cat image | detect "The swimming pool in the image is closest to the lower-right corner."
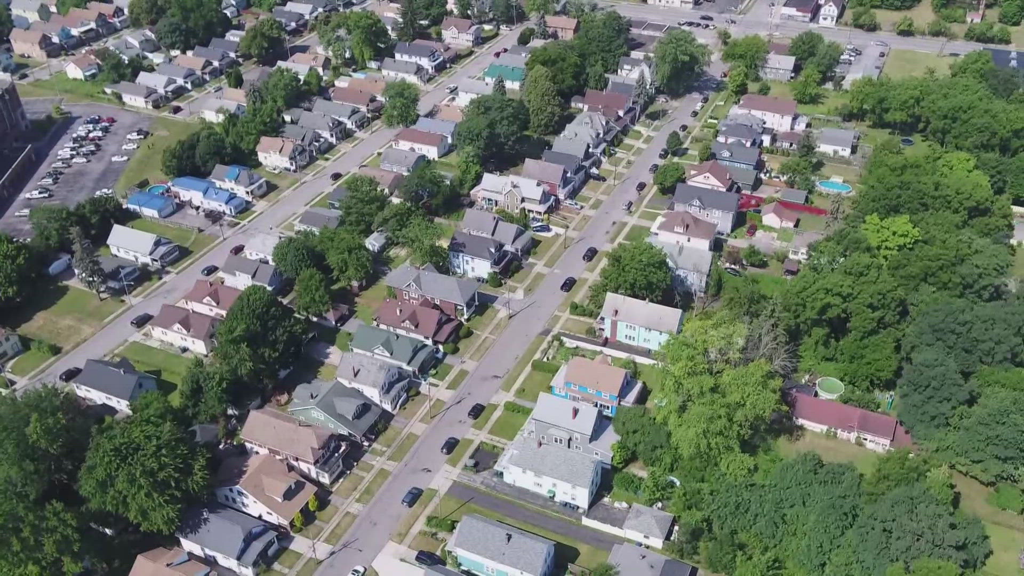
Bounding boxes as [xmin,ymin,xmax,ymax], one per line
[815,377,845,399]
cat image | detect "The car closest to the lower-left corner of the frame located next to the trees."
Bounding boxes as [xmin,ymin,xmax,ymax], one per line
[57,363,81,384]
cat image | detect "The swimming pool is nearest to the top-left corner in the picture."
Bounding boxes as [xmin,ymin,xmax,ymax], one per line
[146,184,169,196]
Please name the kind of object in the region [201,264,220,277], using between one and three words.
vehicle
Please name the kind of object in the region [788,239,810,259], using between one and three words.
building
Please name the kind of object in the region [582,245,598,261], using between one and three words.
car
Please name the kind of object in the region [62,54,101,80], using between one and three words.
house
